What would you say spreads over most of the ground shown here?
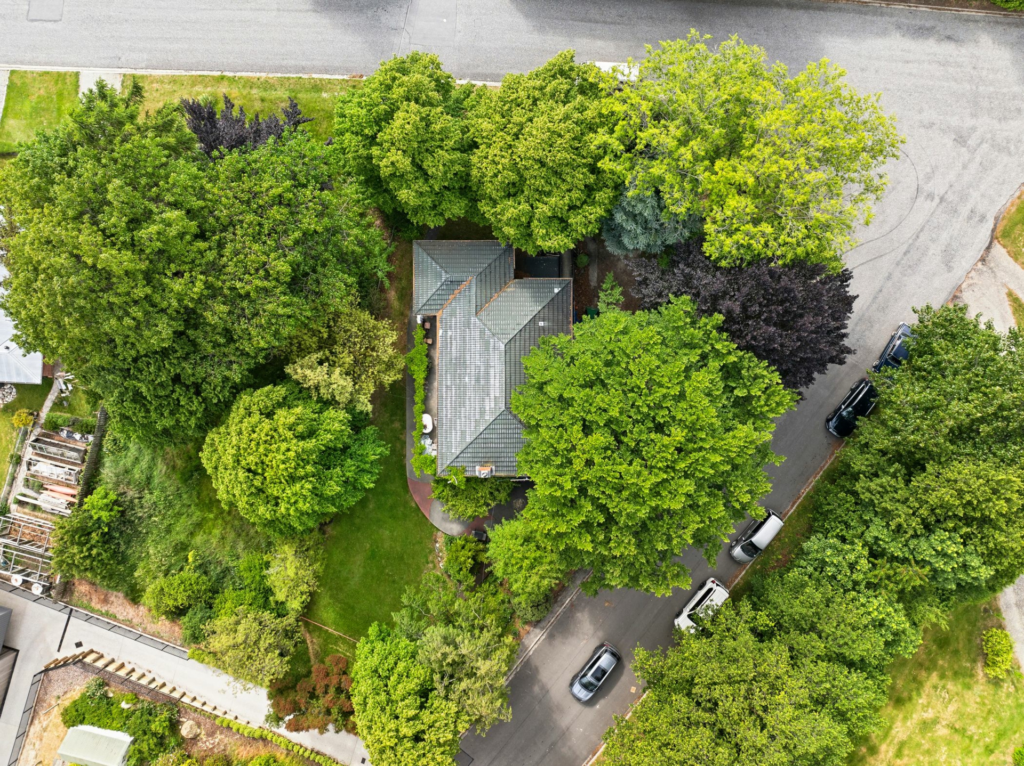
trees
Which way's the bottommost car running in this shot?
on a diagonal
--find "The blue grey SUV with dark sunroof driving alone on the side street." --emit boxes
[570,640,622,702]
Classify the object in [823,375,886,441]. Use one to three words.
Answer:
car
